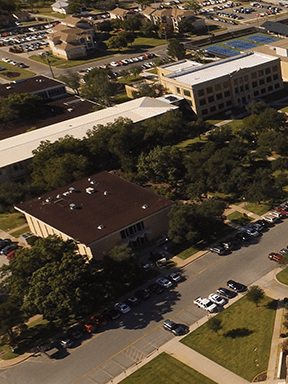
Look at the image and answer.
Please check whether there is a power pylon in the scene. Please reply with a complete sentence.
No, no power pylon can be seen from above.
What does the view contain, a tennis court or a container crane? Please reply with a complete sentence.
Visible in the photo is a tennis court.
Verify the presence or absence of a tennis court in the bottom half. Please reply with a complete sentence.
No, in the bottom half there is no tennis court.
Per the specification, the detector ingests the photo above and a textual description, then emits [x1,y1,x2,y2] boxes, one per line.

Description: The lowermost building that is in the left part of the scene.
[14,172,173,257]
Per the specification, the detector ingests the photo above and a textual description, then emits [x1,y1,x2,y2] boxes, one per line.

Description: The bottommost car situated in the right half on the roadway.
[165,318,186,334]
